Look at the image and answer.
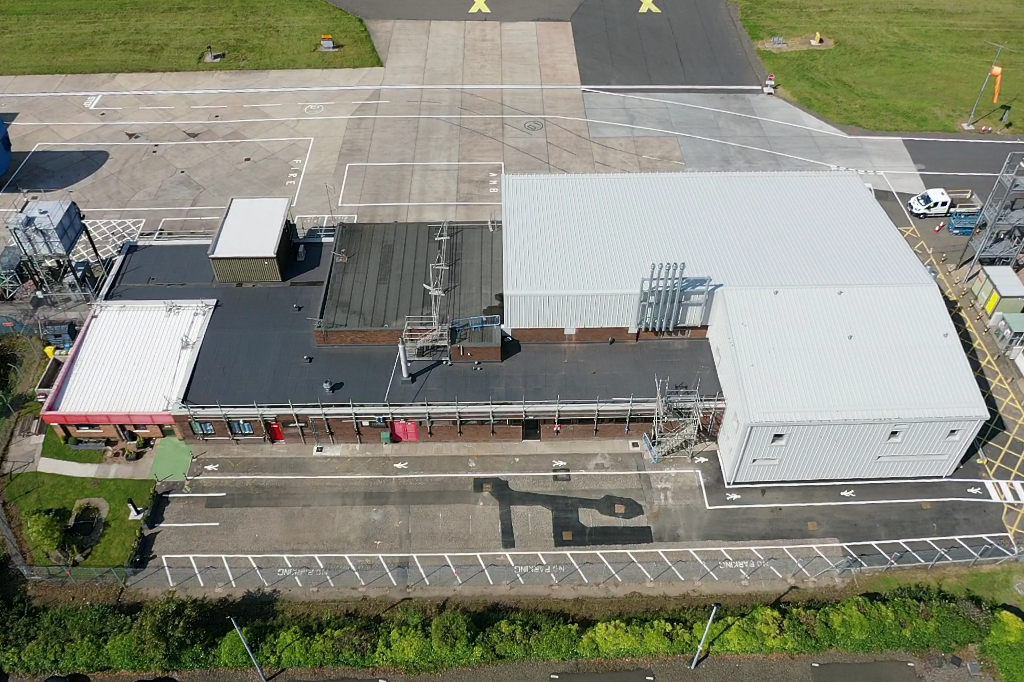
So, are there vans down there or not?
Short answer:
Yes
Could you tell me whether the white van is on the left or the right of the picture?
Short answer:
right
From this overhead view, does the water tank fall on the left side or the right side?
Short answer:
left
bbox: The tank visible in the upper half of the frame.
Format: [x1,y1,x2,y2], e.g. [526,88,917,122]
[0,189,109,302]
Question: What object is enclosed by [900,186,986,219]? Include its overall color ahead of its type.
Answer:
white van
